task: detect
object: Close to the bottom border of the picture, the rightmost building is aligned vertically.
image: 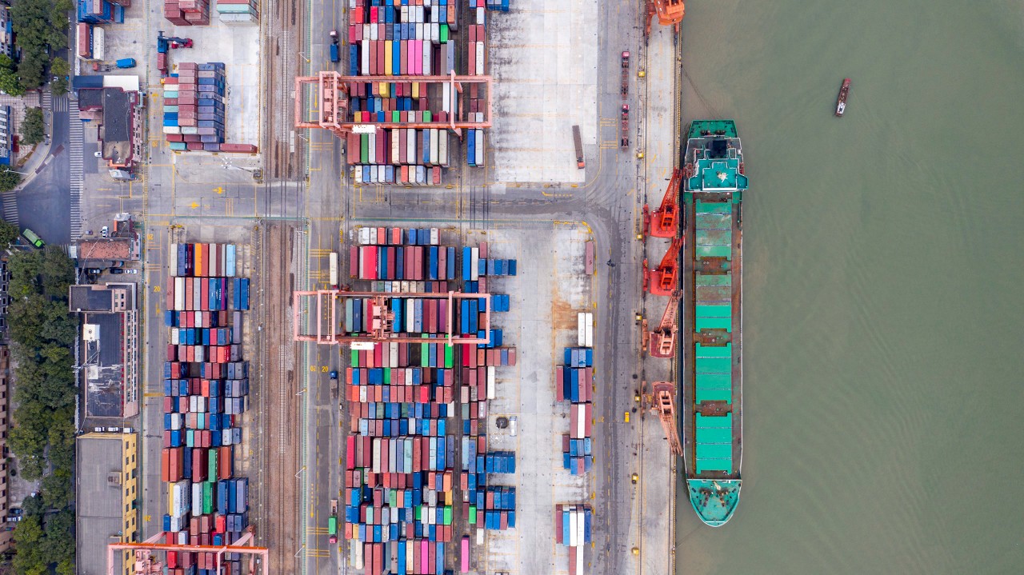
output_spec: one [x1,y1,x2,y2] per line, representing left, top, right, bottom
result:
[76,432,140,575]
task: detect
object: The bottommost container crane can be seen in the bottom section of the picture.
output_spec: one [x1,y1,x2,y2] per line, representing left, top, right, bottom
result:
[108,521,271,575]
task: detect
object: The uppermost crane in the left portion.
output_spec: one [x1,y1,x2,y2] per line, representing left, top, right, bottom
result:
[296,70,492,149]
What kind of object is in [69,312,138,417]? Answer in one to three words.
building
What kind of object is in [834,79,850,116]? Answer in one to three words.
boat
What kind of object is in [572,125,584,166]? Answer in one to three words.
vehicle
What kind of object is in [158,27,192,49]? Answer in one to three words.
work vehicle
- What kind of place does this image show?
port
